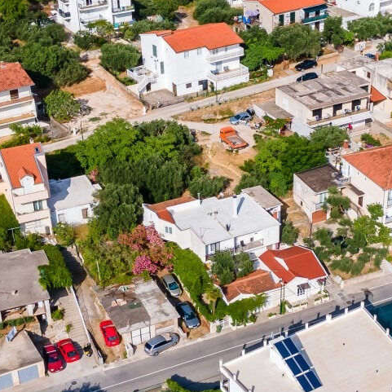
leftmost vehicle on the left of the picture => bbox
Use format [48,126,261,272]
[44,344,63,369]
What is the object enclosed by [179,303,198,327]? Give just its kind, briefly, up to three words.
car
